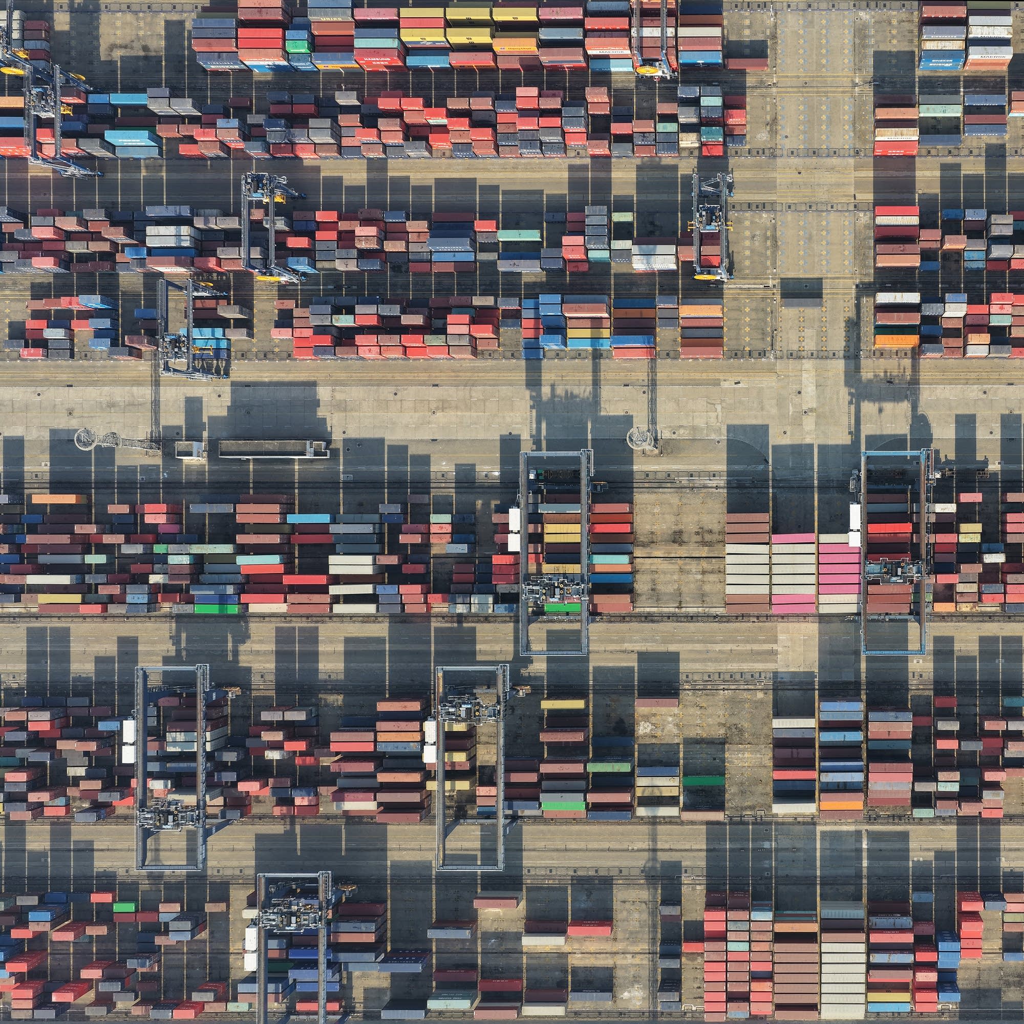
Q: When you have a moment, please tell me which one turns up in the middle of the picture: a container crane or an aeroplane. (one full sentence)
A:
There is a container crane in the middle of the picture.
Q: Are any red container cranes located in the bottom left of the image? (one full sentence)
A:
No, no red container crane is visible in the bottom left of the image.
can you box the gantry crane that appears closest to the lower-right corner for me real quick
[847,449,934,656]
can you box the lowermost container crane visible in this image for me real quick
[243,862,362,1024]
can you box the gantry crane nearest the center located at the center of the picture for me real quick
[506,450,612,657]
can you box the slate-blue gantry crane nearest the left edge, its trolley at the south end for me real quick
[122,661,246,872]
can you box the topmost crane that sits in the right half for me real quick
[630,0,682,83]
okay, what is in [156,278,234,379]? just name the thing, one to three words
container crane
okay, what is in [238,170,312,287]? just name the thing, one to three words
container crane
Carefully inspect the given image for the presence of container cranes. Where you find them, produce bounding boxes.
[688,172,739,286]
[243,862,362,1024]
[122,661,246,872]
[847,449,934,656]
[630,0,682,83]
[22,63,109,176]
[238,170,312,287]
[506,450,612,657]
[0,0,54,83]
[156,278,234,379]
[422,661,532,872]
